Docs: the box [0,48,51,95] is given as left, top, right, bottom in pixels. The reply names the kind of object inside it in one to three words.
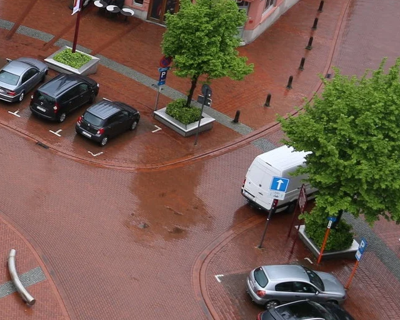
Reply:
car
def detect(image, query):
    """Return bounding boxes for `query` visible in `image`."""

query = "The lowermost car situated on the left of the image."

[81,93,138,138]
